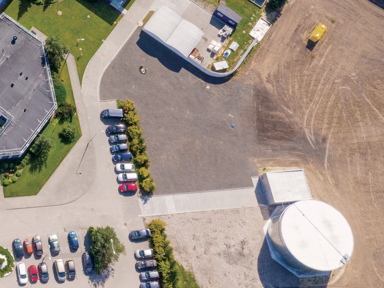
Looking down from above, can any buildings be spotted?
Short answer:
Yes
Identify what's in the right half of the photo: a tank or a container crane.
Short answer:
tank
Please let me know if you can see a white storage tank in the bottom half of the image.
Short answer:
Yes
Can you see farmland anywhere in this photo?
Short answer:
Yes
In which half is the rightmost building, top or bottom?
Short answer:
bottom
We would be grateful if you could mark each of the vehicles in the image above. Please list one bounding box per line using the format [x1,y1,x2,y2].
[24,239,33,255]
[139,271,160,281]
[101,109,126,119]
[115,163,135,173]
[69,232,79,249]
[119,183,138,192]
[13,239,23,258]
[129,229,152,240]
[16,263,27,285]
[65,261,75,280]
[112,153,133,162]
[32,235,43,256]
[135,249,155,258]
[118,174,138,183]
[139,281,161,288]
[106,125,127,134]
[49,235,61,254]
[109,135,128,144]
[29,265,38,282]
[54,259,66,281]
[38,263,49,282]
[135,259,157,270]
[110,144,129,153]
